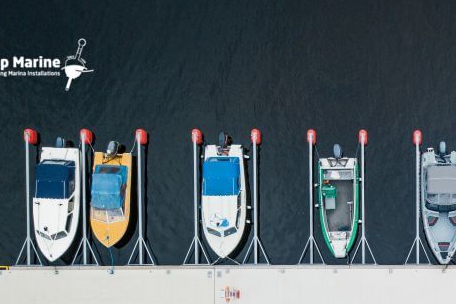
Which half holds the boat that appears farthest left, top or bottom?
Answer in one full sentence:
Seen from above, the boat that appears farthest left lies in the bottom half of the view.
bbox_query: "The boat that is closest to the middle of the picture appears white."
[201,131,247,259]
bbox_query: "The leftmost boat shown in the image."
[33,137,82,263]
